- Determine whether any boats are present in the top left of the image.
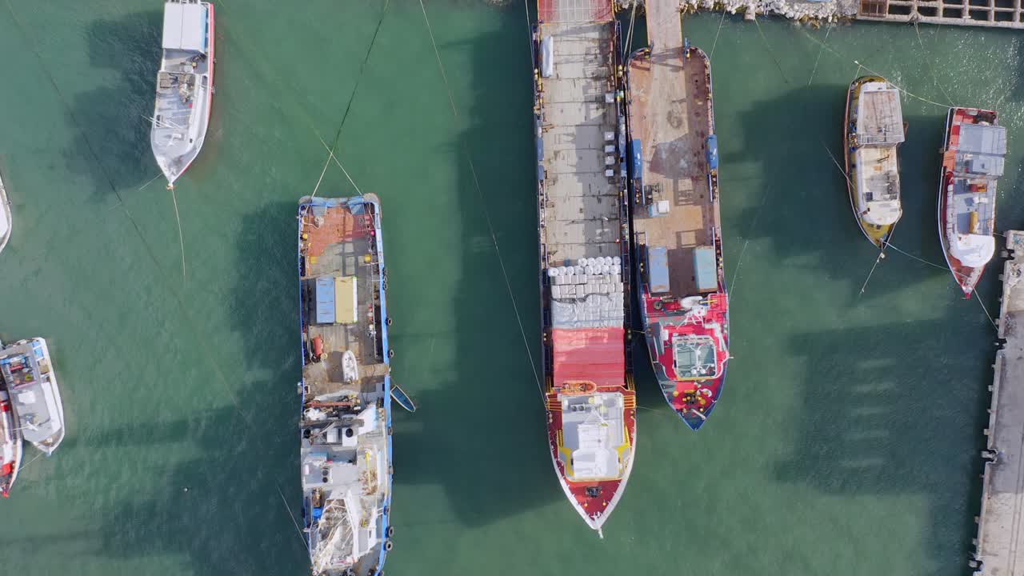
Yes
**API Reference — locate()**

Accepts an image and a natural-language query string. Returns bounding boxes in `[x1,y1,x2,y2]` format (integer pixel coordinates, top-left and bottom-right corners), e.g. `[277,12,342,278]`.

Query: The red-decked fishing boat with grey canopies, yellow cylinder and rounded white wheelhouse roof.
[934,108,1007,298]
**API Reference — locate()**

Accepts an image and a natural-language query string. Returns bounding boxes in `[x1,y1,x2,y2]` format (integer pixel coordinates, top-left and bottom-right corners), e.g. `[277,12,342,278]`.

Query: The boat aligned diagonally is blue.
[391,385,416,413]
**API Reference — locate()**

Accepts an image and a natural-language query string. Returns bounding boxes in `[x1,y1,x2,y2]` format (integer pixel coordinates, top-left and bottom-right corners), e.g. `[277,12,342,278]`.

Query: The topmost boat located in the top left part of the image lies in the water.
[141,0,219,190]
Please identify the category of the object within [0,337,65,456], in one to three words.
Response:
boat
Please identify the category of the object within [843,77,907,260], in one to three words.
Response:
boat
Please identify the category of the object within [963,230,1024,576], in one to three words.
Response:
pier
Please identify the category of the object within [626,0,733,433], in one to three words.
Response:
ship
